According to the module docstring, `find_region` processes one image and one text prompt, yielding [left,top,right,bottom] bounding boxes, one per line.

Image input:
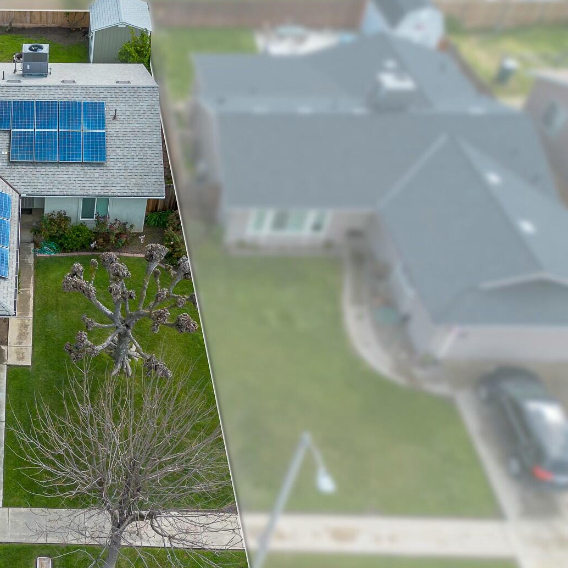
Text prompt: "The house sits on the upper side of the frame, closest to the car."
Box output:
[188,25,568,365]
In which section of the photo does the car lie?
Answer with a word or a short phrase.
bottom right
